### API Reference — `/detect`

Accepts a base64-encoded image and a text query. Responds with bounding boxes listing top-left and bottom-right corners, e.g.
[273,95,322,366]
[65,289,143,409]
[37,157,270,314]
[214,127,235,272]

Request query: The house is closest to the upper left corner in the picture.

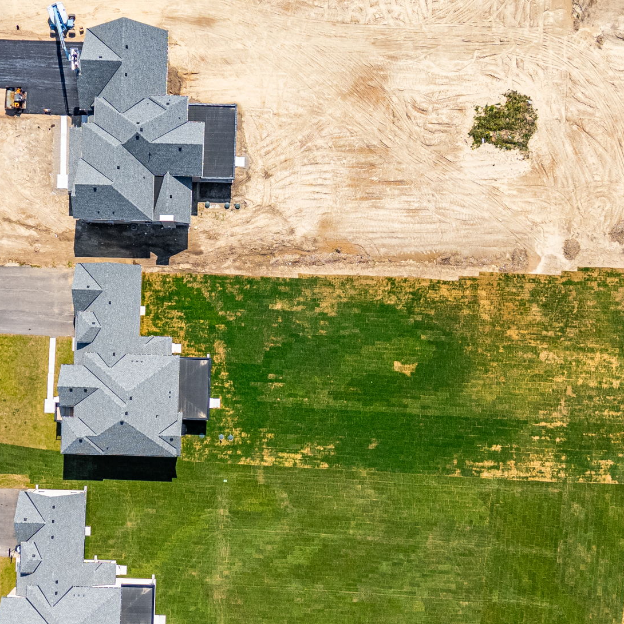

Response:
[68,16,245,232]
